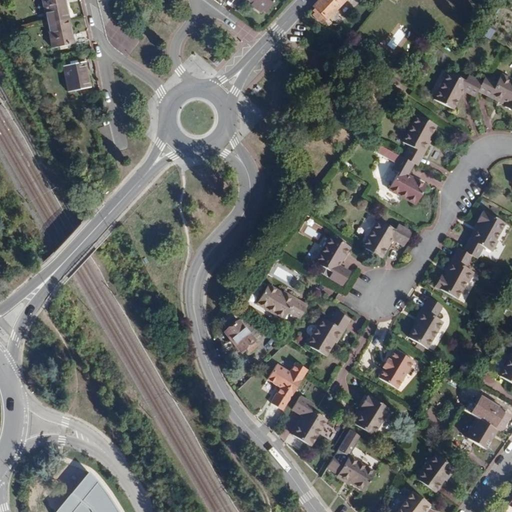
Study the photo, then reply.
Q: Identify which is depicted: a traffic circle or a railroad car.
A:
traffic circle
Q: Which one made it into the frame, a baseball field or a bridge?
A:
bridge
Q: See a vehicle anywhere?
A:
Yes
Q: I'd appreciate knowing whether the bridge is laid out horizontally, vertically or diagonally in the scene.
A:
diagonally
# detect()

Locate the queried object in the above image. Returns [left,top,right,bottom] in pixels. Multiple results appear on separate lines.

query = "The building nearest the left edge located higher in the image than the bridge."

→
[40,0,76,50]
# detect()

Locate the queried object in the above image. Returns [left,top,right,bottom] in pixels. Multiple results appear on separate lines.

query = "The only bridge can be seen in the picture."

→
[44,211,106,288]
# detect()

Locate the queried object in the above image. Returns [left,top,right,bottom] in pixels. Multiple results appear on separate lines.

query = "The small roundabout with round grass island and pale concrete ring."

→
[158,79,237,158]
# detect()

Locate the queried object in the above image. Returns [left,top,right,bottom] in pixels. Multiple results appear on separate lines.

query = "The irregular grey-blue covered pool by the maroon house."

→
[379,162,396,187]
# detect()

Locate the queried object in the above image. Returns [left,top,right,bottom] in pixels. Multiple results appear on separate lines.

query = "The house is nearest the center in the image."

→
[260,286,310,320]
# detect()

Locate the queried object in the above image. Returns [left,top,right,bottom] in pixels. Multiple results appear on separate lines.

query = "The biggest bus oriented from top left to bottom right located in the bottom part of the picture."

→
[268,446,293,473]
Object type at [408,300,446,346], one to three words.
house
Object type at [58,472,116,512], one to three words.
building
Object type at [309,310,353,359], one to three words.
house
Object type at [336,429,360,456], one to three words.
barn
